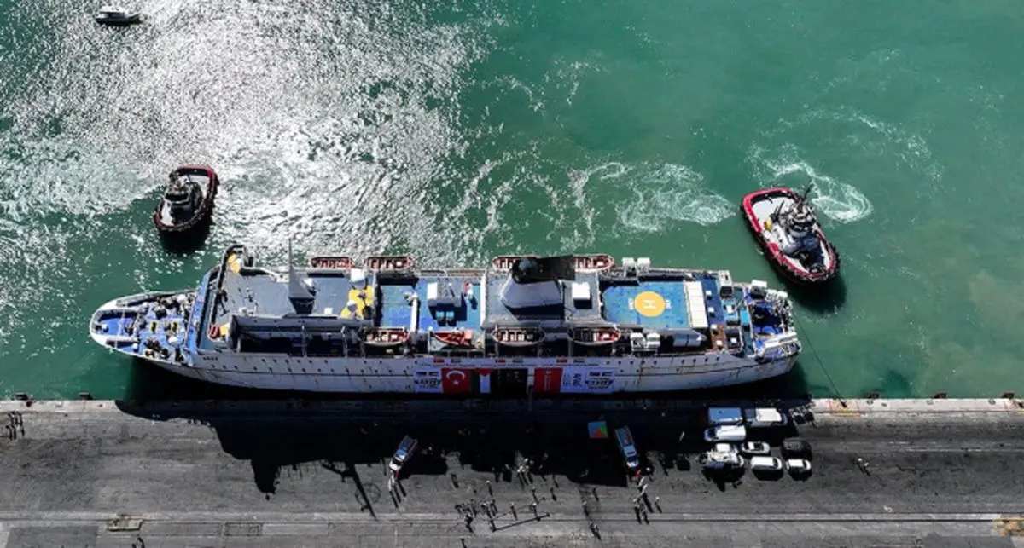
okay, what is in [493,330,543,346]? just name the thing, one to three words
boat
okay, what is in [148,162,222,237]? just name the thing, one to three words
boat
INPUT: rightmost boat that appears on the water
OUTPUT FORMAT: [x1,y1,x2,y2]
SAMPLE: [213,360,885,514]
[740,184,851,285]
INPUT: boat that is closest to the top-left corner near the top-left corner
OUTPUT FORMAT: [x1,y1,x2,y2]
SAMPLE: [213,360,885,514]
[94,3,143,22]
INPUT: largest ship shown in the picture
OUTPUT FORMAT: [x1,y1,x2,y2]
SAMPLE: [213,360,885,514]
[83,233,799,395]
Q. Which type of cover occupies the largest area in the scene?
water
